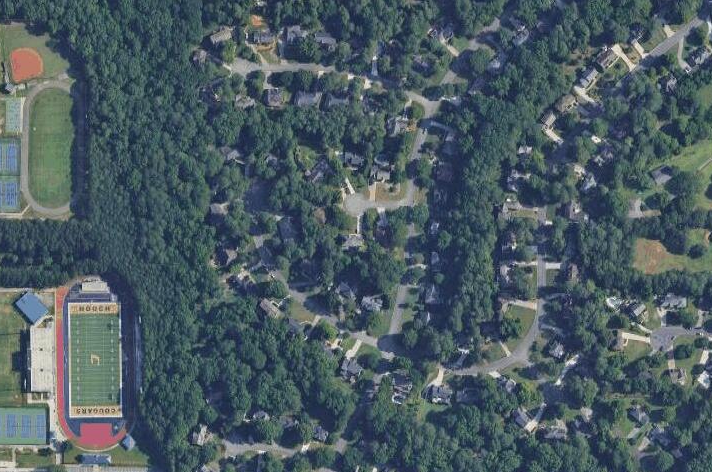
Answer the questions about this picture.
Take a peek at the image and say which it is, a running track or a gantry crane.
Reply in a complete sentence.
Looking from above, you can make out a running track.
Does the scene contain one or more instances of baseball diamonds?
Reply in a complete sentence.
Yes, a baseball diamond appears in the view.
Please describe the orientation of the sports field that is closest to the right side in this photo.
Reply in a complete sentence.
I'd say the sports field that is closest to the right side is aligned from top to bottom in the picture.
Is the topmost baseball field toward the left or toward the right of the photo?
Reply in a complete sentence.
The topmost baseball field sits on the left side.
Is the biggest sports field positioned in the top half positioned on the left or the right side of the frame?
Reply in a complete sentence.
The biggest sports field positioned in the top half appears in the left half of the scene.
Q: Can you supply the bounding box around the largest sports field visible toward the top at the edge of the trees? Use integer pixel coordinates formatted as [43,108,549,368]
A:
[29,86,77,209]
